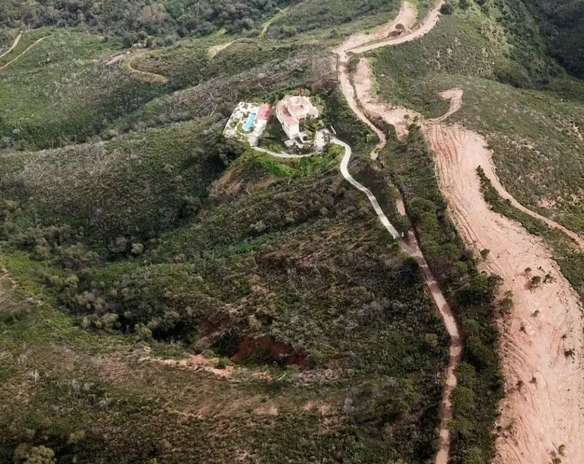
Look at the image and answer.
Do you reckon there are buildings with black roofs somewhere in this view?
No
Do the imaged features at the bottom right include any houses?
No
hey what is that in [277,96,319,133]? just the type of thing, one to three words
house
